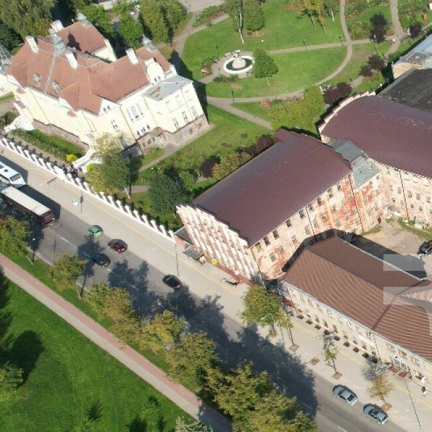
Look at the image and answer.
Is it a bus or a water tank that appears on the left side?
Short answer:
bus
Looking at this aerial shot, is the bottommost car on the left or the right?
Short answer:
right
